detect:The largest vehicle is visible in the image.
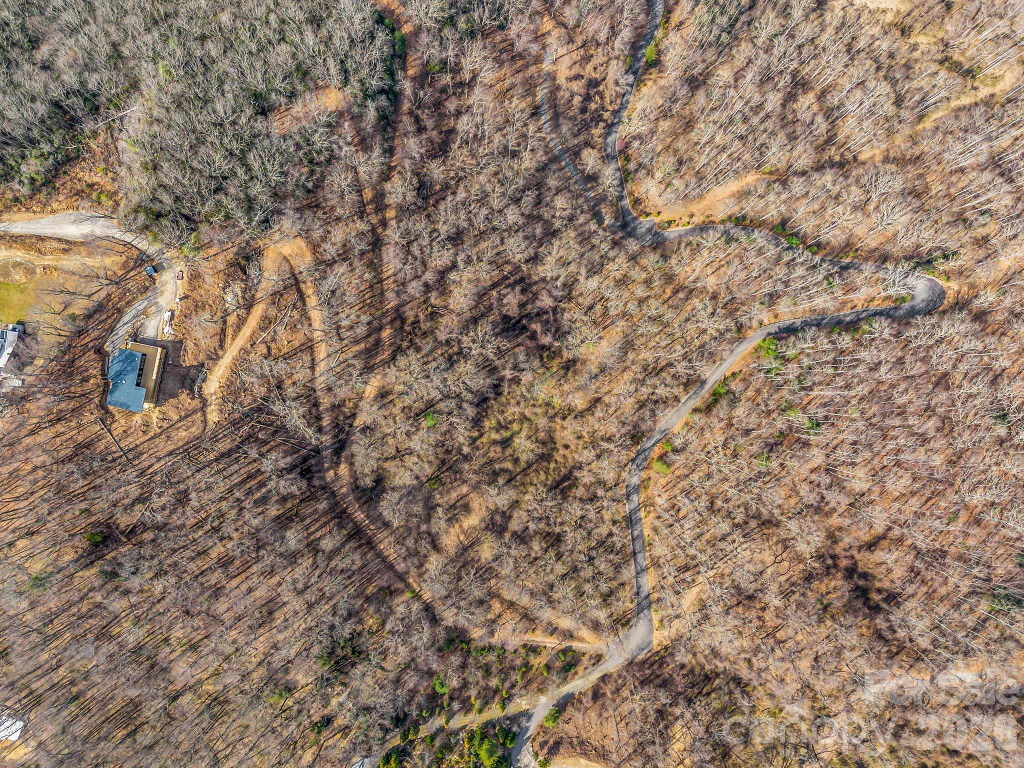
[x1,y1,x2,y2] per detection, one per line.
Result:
[142,261,163,275]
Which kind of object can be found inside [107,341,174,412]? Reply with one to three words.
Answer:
house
